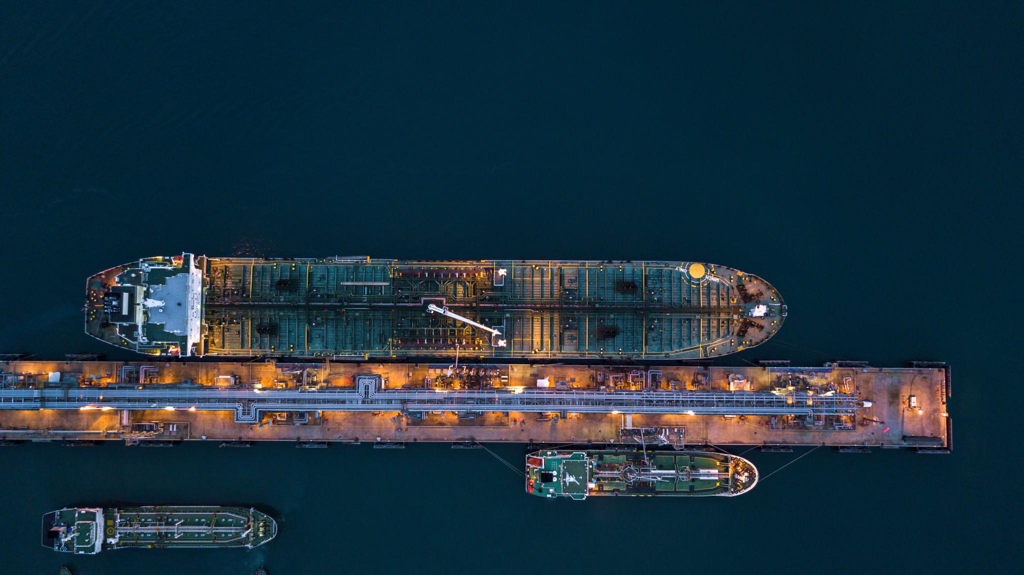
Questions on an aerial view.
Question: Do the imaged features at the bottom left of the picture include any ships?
Yes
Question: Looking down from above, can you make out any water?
Yes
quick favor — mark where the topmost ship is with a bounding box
[81,251,787,360]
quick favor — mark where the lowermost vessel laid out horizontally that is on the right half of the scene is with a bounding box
[526,448,758,500]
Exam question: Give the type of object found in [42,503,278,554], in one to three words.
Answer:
ship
